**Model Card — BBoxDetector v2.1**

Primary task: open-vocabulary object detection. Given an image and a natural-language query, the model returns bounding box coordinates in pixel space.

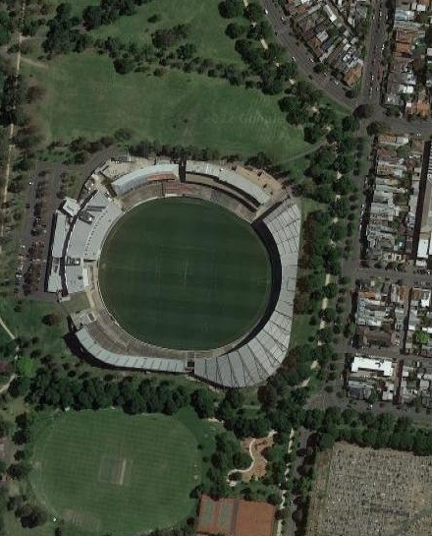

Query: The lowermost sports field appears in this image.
[30,412,202,536]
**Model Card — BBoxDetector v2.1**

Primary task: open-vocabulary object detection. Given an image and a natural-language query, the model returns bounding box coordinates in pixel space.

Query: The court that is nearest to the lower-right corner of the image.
[236,499,275,536]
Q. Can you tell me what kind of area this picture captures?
sports ground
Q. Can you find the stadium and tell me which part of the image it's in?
center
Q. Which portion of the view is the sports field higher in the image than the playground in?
center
